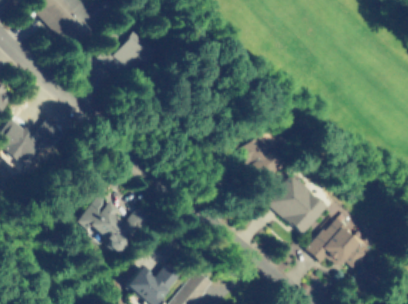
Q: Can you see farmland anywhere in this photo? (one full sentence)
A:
No, no farmland is visible.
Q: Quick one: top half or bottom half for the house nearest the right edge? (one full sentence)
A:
The house nearest the right edge sits in the bottom half of the picture.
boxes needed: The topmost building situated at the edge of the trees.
[37,0,94,46]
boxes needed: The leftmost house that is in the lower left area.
[78,196,128,251]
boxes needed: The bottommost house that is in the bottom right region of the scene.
[306,216,366,268]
